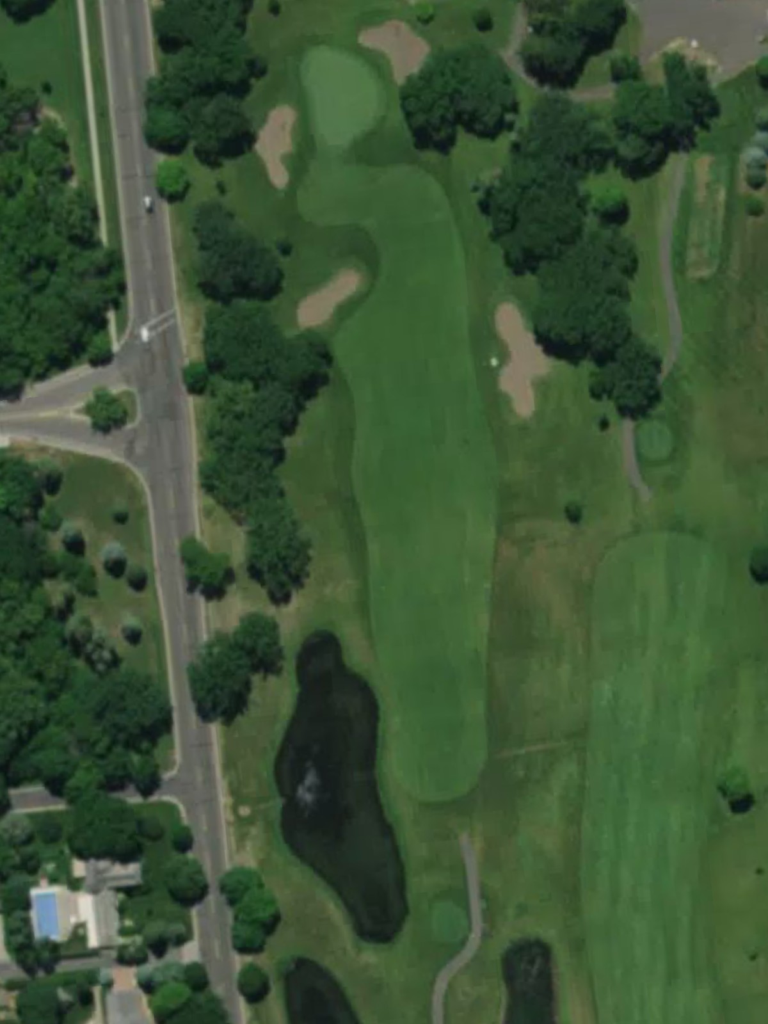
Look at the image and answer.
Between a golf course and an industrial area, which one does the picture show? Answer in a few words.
golf course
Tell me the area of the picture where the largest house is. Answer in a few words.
bottom left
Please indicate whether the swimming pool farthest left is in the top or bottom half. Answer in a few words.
bottom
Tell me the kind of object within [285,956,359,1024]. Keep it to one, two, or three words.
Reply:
pond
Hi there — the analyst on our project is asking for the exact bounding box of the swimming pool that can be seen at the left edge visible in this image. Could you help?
[31,888,64,938]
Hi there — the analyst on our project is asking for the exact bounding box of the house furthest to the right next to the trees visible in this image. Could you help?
[71,859,141,949]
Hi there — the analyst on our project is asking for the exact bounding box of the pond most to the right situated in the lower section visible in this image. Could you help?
[504,938,555,1024]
